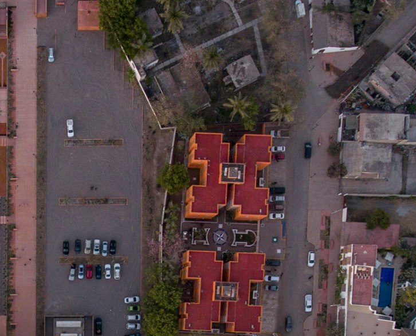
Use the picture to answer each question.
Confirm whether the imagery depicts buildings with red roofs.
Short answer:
Yes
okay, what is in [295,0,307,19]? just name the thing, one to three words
vehicle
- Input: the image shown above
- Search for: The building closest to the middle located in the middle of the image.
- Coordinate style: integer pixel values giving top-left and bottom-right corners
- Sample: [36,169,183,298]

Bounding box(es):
[184,133,272,221]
